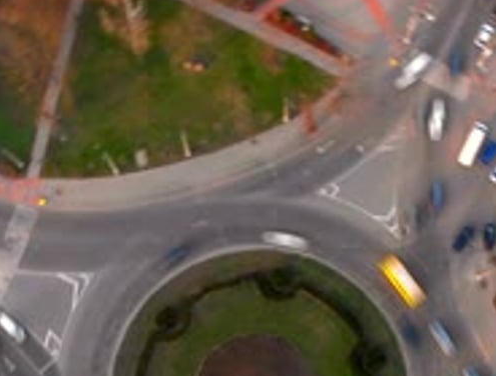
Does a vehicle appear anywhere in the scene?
Yes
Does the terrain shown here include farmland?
No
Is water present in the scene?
No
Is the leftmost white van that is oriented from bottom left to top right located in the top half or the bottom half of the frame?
top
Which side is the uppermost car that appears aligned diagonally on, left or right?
right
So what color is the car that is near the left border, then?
white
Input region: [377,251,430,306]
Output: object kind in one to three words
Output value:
vehicle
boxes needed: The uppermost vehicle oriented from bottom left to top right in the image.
[474,17,496,50]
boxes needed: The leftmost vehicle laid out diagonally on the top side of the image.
[396,46,433,87]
